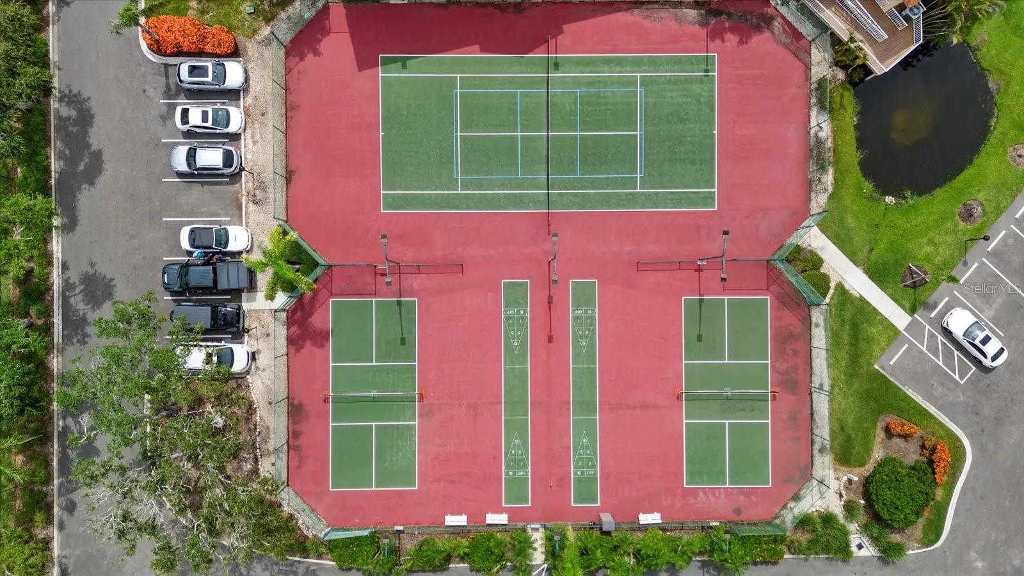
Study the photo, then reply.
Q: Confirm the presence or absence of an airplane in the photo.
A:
No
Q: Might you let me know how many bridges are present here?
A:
0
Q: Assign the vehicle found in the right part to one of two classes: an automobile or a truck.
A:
automobile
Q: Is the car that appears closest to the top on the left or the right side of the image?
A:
left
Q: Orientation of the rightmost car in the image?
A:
at an angle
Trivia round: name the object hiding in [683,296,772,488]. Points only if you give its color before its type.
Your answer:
green sports court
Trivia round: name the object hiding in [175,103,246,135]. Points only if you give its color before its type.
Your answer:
white car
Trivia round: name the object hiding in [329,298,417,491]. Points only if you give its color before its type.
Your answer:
green sports court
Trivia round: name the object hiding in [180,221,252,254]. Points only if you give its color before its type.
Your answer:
white car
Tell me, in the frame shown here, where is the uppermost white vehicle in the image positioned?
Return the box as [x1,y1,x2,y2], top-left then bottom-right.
[176,57,248,91]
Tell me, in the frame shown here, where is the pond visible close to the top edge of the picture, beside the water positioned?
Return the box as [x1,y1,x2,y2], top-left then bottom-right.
[854,28,996,197]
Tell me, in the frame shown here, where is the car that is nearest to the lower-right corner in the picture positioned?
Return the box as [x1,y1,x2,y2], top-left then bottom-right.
[941,309,1008,368]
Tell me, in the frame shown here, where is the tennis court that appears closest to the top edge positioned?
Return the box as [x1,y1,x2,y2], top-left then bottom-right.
[379,53,717,212]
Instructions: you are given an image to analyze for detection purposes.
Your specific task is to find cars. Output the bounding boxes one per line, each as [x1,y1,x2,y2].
[941,309,1008,368]
[180,221,252,254]
[176,57,248,91]
[175,103,246,135]
[171,142,243,175]
[178,343,252,376]
[169,302,247,334]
